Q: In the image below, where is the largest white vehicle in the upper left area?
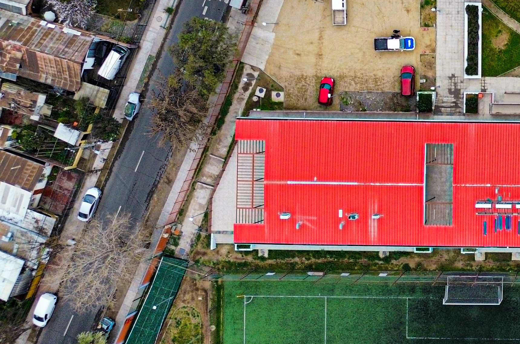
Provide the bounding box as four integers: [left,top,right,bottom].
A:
[96,43,130,83]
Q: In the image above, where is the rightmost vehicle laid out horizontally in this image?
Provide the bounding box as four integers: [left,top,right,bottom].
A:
[373,35,416,52]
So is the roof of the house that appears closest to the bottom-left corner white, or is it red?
white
